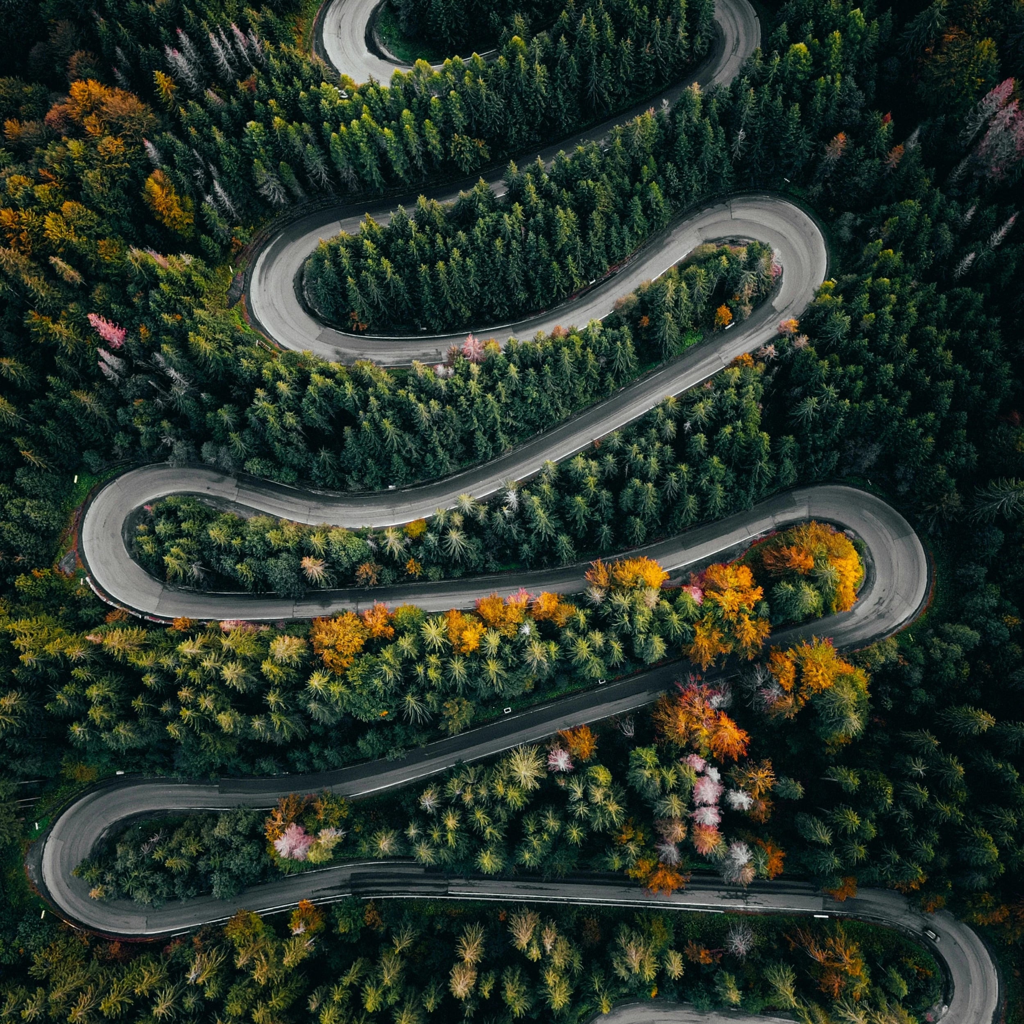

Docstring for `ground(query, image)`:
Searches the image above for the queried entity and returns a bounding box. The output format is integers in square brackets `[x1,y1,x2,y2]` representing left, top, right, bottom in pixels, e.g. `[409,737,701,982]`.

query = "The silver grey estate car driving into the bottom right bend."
[924,928,942,944]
